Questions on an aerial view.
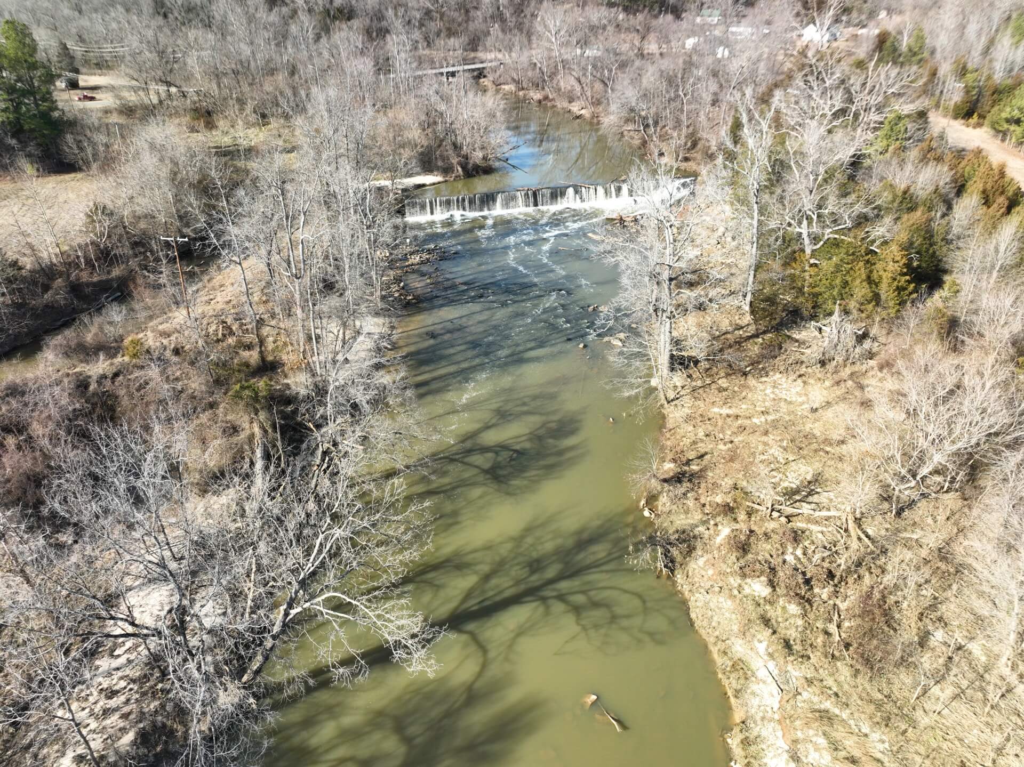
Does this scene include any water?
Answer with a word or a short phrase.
Yes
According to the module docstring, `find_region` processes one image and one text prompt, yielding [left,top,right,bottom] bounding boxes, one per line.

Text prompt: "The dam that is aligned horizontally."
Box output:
[355,183,647,220]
